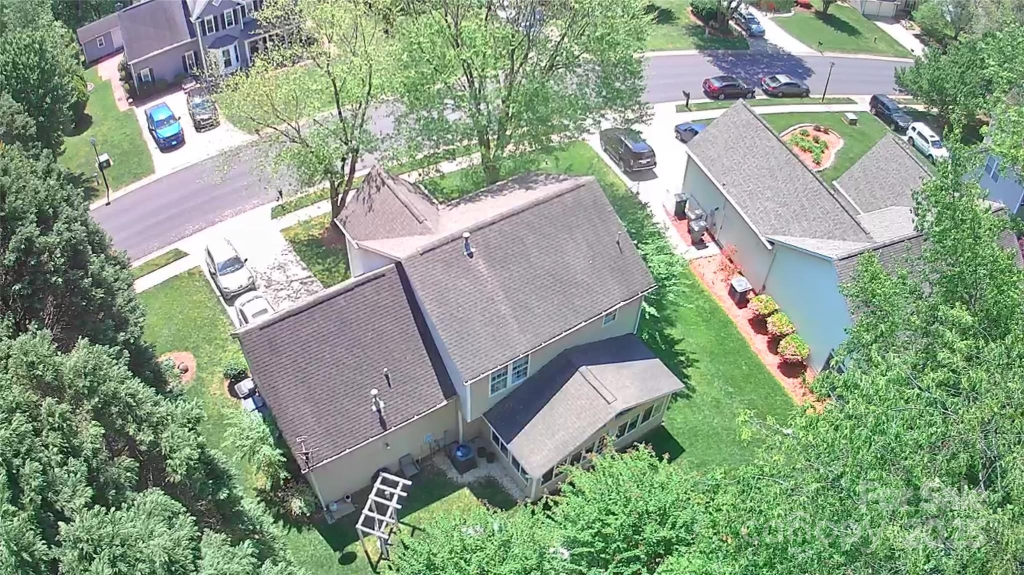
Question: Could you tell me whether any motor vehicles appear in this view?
Yes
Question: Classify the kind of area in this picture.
residential area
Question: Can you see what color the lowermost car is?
white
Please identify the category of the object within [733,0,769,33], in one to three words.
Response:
car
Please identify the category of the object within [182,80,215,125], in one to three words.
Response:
car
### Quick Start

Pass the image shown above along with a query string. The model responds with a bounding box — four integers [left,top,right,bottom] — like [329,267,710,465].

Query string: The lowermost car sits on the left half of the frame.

[237,291,273,324]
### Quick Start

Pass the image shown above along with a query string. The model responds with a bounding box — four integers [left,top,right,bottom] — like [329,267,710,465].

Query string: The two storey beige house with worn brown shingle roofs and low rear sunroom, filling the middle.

[228,167,683,513]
